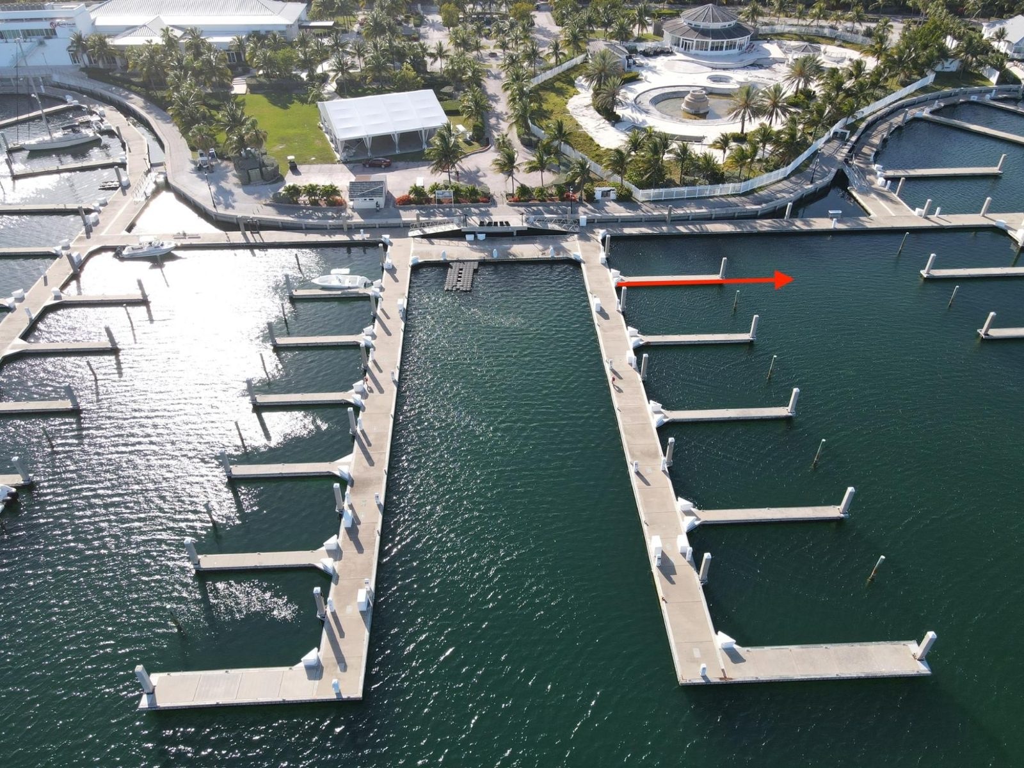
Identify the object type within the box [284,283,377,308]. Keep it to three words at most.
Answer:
pier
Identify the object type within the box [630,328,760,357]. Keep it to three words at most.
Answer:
pier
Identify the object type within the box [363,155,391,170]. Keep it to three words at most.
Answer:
car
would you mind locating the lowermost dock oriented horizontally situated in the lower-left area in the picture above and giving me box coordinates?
[139,644,322,712]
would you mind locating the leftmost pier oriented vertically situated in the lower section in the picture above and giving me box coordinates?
[314,239,409,704]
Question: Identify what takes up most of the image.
water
